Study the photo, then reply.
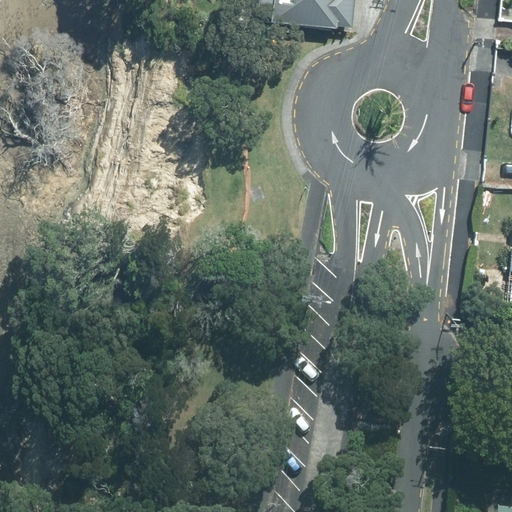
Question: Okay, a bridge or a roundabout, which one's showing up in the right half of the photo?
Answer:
roundabout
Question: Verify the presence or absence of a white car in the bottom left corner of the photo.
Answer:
No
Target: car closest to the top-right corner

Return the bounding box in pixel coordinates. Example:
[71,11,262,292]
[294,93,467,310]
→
[460,84,474,113]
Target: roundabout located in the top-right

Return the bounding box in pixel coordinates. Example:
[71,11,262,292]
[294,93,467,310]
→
[332,88,428,162]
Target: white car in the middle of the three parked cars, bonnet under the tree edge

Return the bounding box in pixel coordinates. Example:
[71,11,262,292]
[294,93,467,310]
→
[290,408,311,436]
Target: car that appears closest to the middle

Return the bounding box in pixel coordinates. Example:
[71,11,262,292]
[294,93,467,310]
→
[296,358,320,382]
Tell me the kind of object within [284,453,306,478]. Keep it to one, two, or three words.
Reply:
car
